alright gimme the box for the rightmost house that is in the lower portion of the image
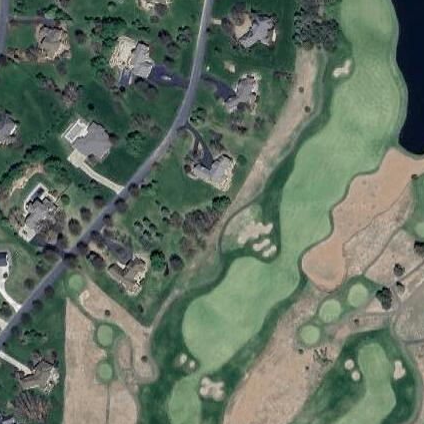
[105,255,148,295]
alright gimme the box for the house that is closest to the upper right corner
[234,12,276,49]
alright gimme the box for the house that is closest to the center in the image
[191,152,235,190]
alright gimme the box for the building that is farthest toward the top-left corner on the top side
[37,25,69,60]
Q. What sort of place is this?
golf course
